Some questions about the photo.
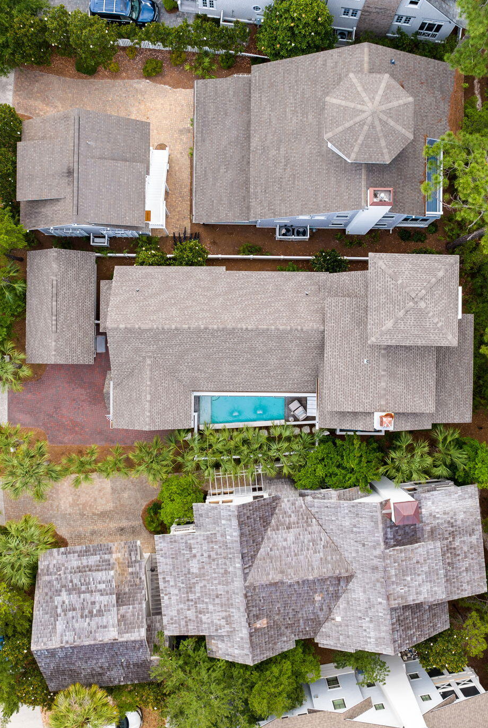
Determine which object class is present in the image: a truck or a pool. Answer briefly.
pool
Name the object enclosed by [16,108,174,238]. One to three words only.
building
